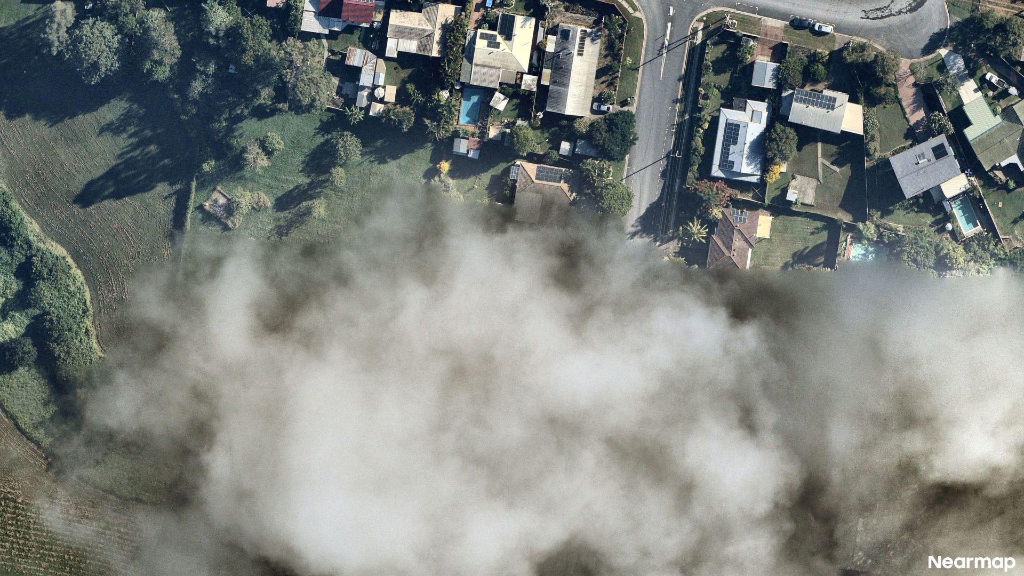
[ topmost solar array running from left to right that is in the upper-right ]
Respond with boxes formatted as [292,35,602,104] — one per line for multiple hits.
[794,89,836,110]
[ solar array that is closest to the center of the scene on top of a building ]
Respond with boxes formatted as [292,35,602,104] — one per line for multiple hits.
[535,166,563,183]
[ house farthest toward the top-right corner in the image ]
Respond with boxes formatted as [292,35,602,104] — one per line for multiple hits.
[962,96,1024,172]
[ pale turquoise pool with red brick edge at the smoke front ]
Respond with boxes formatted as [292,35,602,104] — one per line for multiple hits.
[844,235,890,268]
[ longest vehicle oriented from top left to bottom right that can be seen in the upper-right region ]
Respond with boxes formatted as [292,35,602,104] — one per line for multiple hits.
[986,72,1008,90]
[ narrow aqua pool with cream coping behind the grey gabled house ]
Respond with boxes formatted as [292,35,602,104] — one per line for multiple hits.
[950,193,993,235]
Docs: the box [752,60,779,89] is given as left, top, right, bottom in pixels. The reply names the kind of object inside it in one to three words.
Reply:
building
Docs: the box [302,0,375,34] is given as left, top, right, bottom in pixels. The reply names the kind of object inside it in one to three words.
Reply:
house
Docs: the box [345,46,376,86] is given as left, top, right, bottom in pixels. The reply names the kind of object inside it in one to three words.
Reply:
shed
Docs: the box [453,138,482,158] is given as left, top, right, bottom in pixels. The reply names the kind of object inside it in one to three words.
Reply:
shed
